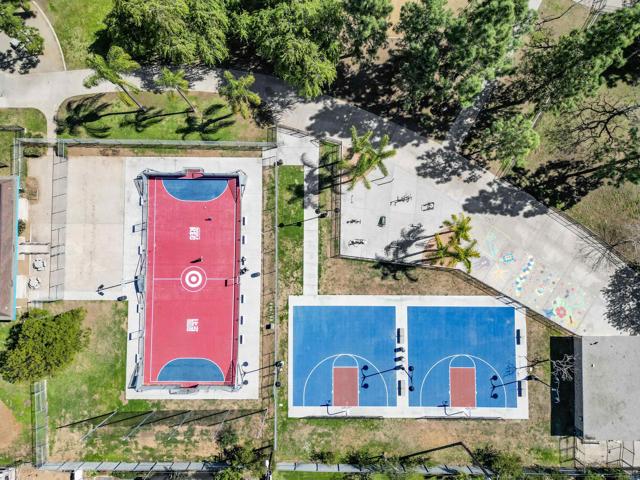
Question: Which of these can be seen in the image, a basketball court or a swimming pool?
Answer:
basketball court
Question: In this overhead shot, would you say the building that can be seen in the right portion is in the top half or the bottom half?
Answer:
bottom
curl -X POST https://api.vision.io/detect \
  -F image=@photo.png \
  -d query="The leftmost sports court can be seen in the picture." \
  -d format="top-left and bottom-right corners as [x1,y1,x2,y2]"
[129,170,249,399]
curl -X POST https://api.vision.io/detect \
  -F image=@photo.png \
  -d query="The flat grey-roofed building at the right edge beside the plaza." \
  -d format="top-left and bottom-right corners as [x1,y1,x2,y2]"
[573,336,640,443]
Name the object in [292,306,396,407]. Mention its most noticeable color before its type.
blue basketball court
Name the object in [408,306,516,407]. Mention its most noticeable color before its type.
blue basketball court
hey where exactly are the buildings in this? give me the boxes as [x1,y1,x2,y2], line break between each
[573,336,640,443]
[0,174,19,321]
